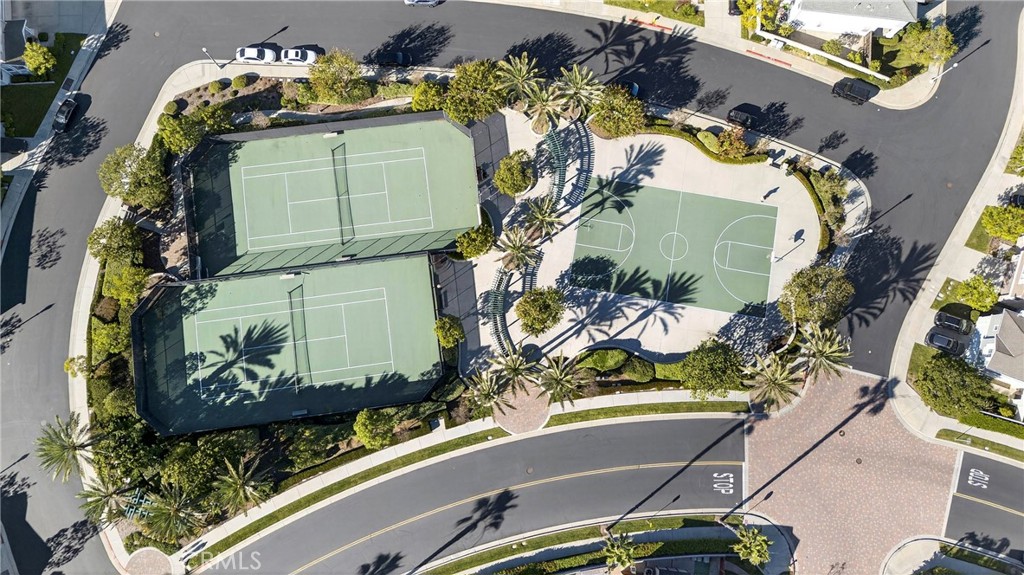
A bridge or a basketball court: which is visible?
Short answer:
basketball court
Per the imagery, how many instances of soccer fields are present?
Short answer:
0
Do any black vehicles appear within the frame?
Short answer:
Yes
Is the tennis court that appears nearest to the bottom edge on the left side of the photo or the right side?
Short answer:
left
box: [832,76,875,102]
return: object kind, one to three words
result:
truck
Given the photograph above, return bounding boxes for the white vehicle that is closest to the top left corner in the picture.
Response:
[237,45,274,63]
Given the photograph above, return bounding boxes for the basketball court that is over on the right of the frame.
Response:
[570,176,776,318]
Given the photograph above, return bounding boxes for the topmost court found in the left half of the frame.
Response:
[193,119,480,281]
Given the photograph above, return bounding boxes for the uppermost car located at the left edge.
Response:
[49,94,76,131]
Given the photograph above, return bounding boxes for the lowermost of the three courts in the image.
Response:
[142,251,440,433]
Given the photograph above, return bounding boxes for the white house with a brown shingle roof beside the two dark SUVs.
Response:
[980,308,1024,375]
